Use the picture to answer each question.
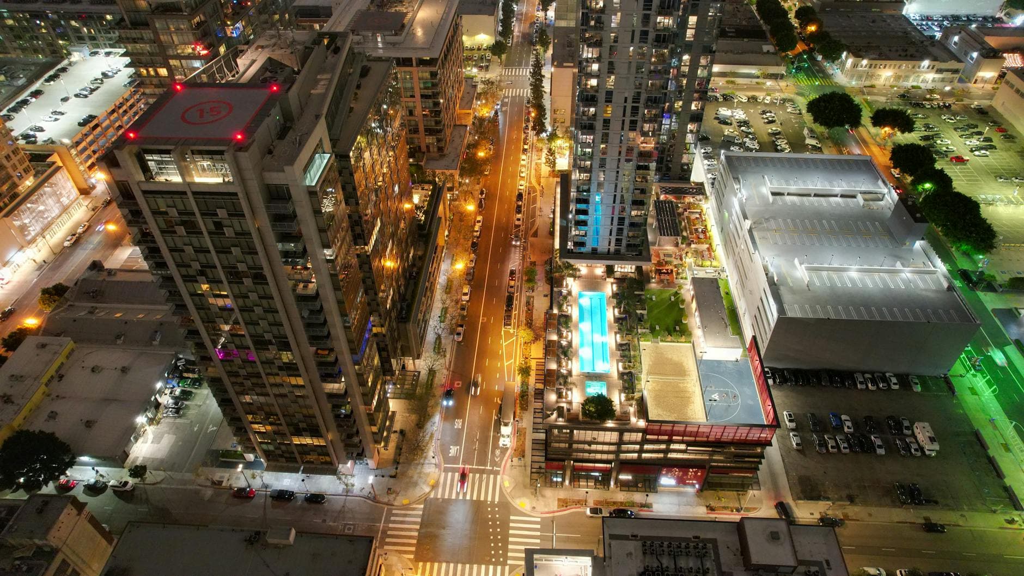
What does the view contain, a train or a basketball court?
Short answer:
basketball court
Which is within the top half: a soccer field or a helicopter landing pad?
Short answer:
helicopter landing pad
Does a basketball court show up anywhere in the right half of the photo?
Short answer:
Yes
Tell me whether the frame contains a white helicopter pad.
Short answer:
No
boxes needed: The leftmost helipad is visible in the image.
[105,84,289,148]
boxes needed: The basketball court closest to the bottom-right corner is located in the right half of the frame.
[697,354,769,423]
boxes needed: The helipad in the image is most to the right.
[366,12,417,32]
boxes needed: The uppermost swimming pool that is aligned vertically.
[577,290,613,373]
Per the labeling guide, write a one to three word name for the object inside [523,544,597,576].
building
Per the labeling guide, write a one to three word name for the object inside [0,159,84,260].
building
